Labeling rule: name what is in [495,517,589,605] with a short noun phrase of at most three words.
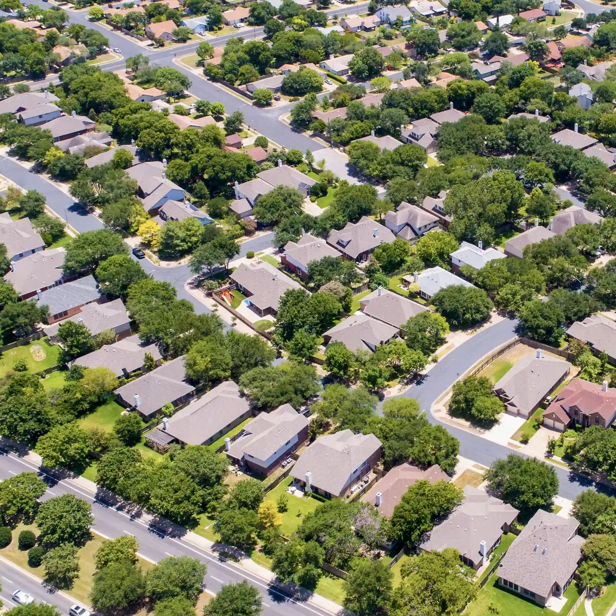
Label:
house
